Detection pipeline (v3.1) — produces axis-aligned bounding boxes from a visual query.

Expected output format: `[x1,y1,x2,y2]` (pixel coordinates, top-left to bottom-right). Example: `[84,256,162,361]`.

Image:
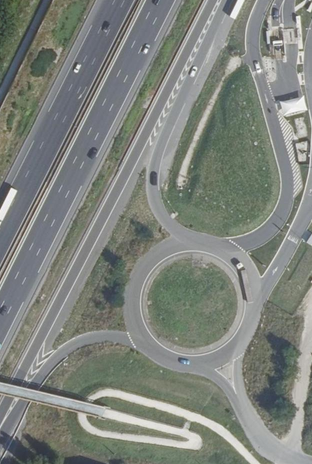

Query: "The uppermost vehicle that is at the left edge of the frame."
[0,189,16,225]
